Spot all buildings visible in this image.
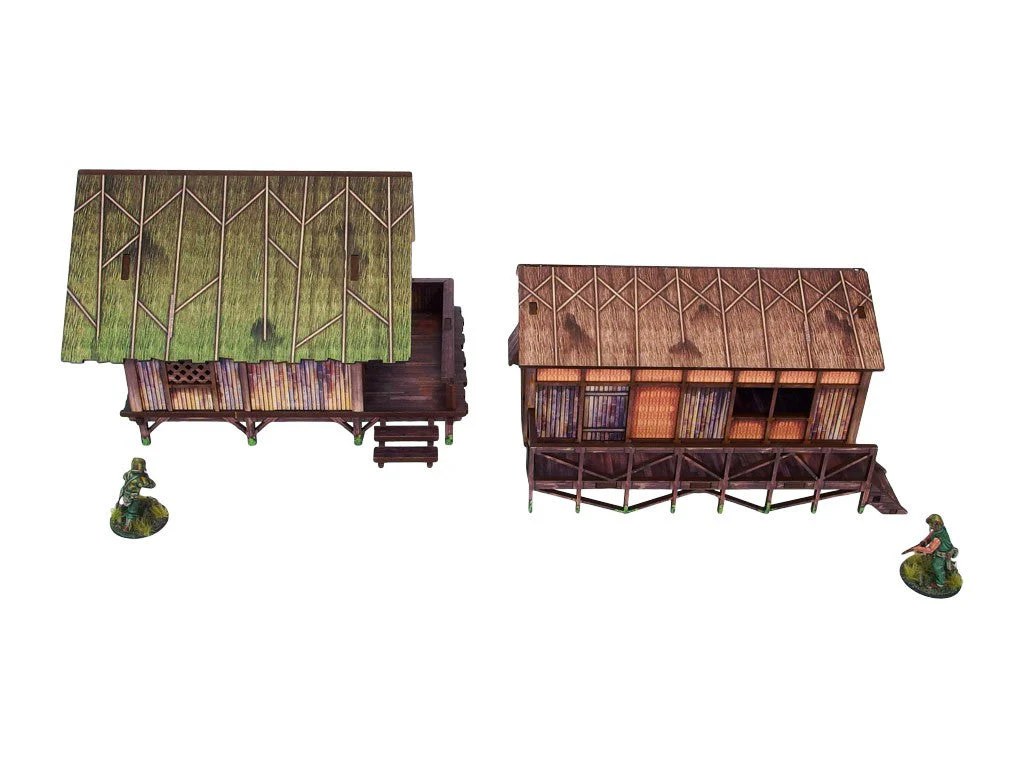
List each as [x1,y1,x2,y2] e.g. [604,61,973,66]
[508,264,907,513]
[59,170,469,467]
